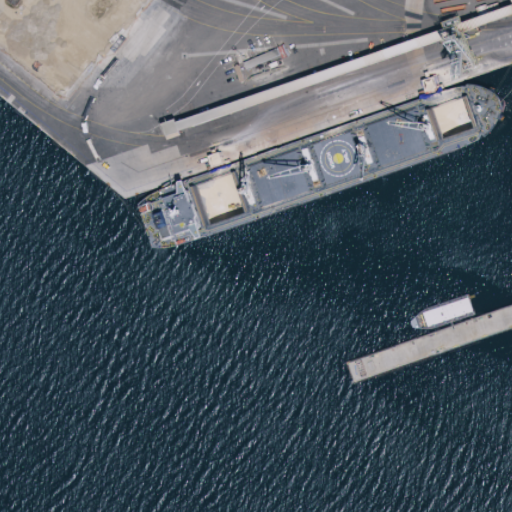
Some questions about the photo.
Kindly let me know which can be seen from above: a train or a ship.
ship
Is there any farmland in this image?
No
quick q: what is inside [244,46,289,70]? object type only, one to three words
building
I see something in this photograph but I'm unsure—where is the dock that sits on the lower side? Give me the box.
[347,304,512,382]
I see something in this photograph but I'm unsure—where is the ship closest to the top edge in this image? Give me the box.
[138,84,502,248]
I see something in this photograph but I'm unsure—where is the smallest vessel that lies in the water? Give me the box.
[410,294,476,328]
